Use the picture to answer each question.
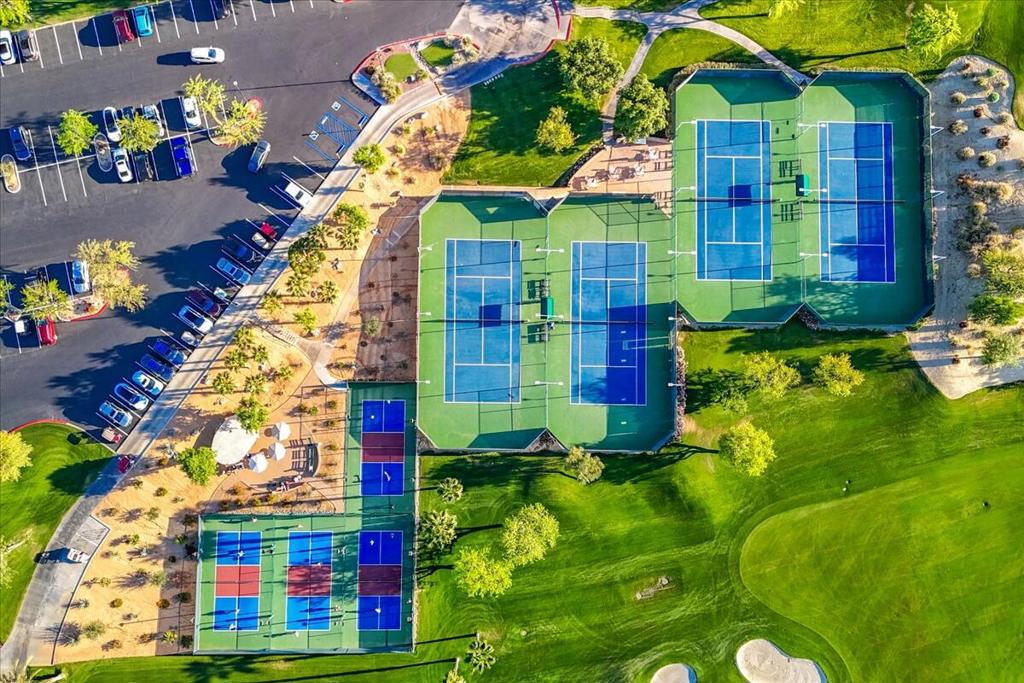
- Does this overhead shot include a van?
Yes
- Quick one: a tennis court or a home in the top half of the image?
tennis court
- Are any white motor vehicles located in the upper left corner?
Yes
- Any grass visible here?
Yes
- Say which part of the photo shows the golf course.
bottom right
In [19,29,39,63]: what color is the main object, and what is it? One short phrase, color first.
gray car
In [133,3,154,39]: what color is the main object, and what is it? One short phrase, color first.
blue truck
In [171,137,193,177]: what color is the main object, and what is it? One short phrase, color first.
blue truck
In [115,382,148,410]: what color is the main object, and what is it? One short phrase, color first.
blue car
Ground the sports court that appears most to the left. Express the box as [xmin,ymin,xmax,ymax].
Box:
[200,514,274,648]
